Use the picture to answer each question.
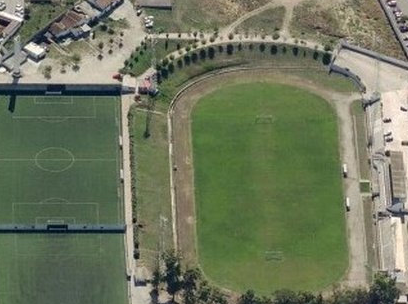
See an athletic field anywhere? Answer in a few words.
Yes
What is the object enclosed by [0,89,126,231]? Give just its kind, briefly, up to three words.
soccer field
